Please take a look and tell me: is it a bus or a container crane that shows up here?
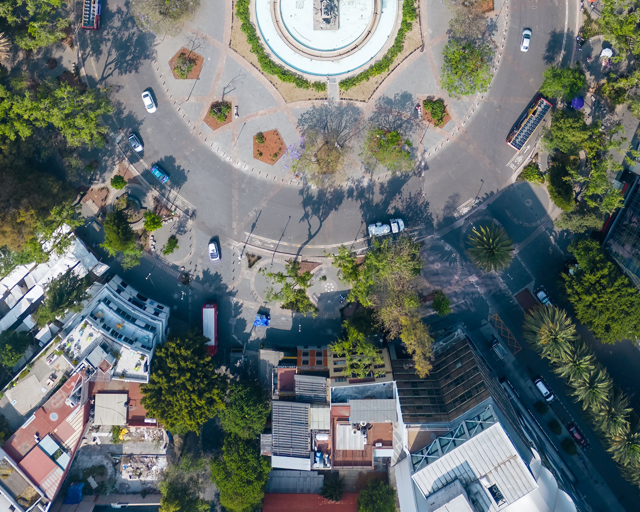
bus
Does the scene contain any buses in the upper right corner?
Yes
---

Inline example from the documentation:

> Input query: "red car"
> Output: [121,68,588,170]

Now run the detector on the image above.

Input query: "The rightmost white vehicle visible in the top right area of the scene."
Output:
[520,27,533,52]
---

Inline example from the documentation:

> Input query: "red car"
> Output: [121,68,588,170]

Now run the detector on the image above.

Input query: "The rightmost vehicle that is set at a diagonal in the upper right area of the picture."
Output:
[501,94,552,151]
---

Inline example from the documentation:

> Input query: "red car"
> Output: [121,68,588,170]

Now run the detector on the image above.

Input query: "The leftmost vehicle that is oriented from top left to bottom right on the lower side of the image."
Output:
[491,339,508,363]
